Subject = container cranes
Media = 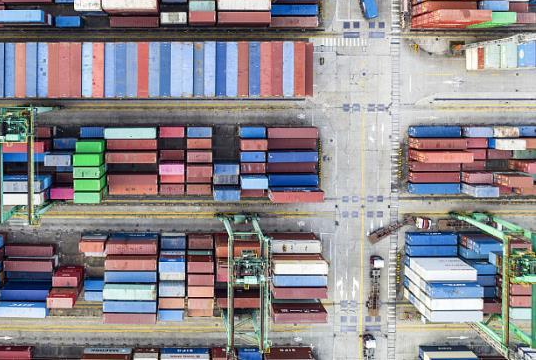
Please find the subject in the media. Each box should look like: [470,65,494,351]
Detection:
[0,105,69,227]
[214,219,270,358]
[445,216,536,359]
